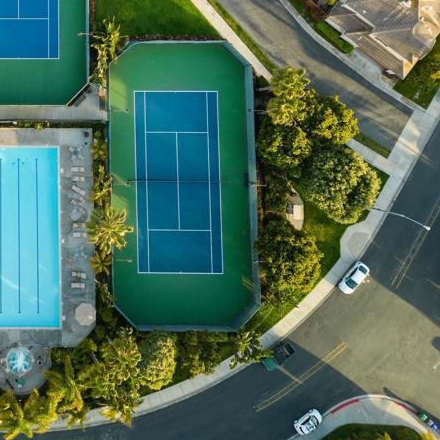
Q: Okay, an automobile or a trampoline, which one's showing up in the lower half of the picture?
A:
automobile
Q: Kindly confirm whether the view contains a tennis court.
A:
Yes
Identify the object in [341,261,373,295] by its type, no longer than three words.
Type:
car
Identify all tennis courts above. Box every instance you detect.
[0,0,92,107]
[107,41,261,332]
